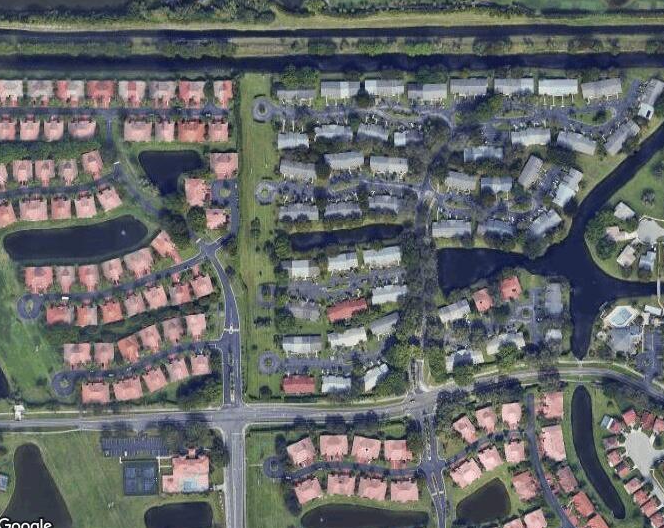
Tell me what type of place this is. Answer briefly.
residential area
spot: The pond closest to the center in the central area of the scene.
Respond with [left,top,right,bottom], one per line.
[291,223,402,251]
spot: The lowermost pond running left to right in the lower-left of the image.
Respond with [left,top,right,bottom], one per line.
[145,502,212,528]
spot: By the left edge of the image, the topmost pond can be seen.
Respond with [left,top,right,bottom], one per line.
[4,215,147,263]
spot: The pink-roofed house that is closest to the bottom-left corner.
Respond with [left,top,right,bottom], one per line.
[82,380,109,404]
